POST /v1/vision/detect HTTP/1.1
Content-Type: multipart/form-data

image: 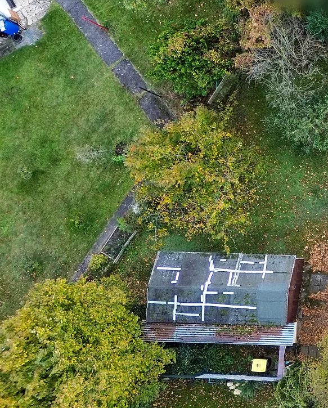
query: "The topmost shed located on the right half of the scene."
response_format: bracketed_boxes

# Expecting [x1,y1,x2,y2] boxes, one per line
[146,251,305,326]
